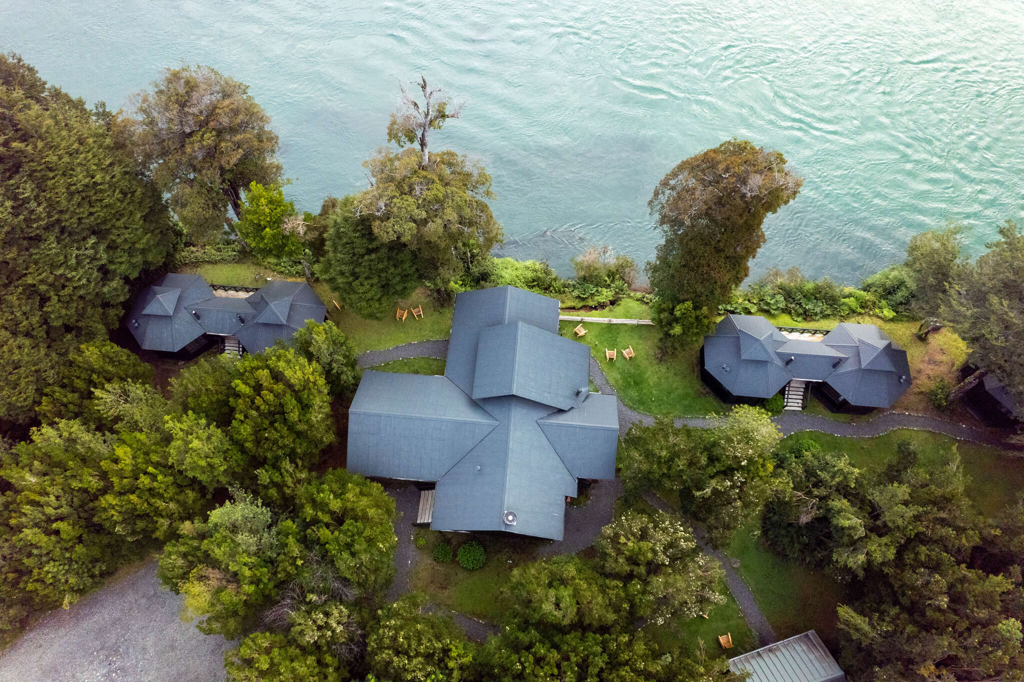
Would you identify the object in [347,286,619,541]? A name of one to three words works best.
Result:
house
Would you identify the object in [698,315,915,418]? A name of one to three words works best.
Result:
building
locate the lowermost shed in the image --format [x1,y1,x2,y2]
[724,628,849,682]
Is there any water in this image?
Yes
